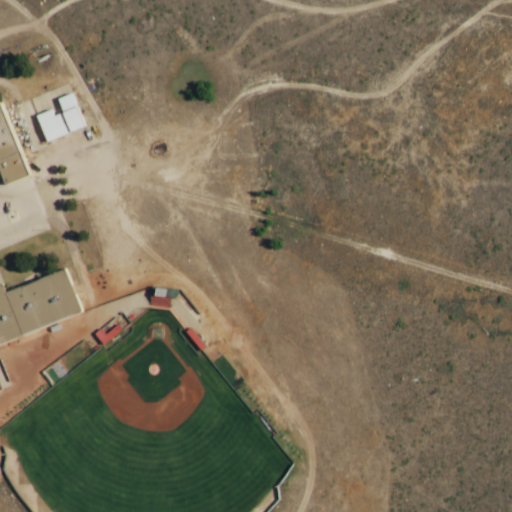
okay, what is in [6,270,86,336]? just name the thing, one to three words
building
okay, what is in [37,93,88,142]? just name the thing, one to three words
shed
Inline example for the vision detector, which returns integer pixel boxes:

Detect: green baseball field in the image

[0,310,292,512]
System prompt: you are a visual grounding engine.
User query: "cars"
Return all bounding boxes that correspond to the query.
[4,204,8,213]
[86,128,92,137]
[31,163,40,171]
